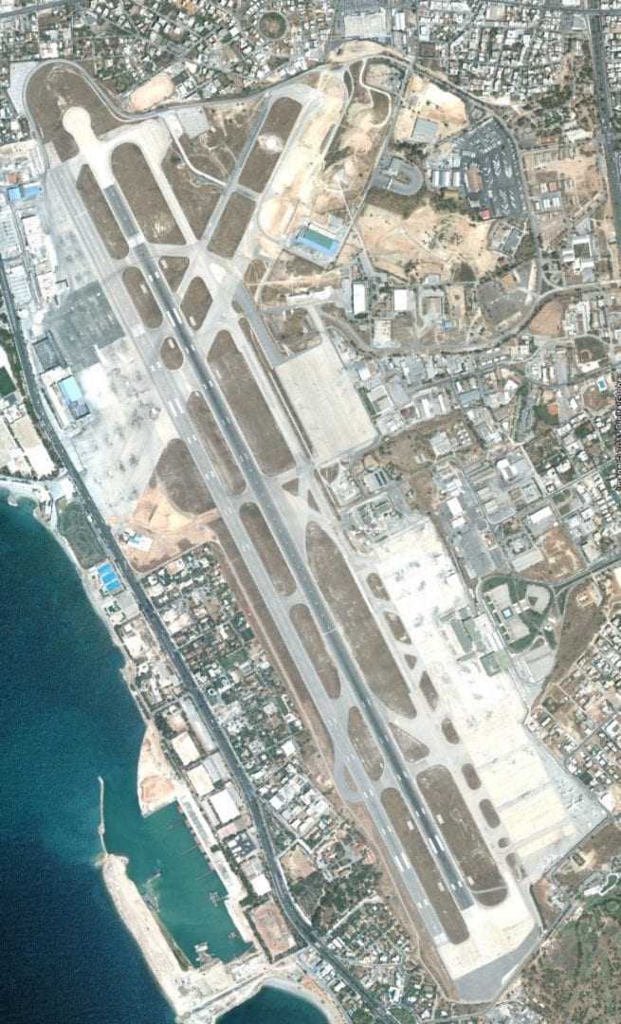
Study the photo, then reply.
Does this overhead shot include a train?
No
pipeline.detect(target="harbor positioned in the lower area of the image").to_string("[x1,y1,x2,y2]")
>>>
[99,775,252,1004]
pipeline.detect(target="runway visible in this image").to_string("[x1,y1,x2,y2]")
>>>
[99,176,474,911]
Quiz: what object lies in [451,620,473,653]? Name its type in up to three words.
building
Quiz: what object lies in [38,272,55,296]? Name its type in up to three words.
hangar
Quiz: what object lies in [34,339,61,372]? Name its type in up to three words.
hangar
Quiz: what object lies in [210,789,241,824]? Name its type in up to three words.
building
